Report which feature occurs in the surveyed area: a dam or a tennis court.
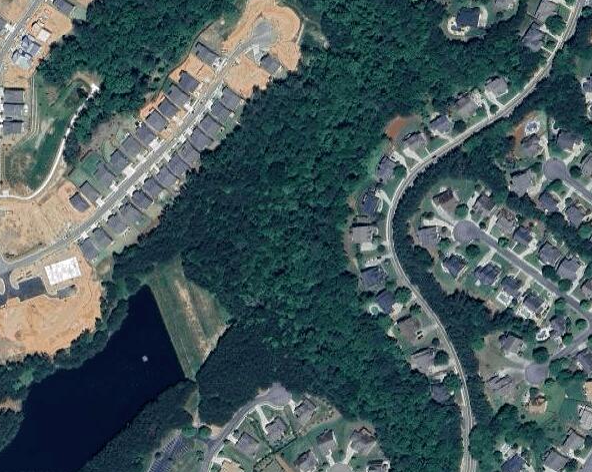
dam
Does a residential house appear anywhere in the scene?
Yes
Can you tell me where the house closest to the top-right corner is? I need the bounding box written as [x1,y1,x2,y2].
[535,0,561,21]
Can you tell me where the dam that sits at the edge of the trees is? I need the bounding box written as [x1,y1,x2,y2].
[148,273,203,377]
